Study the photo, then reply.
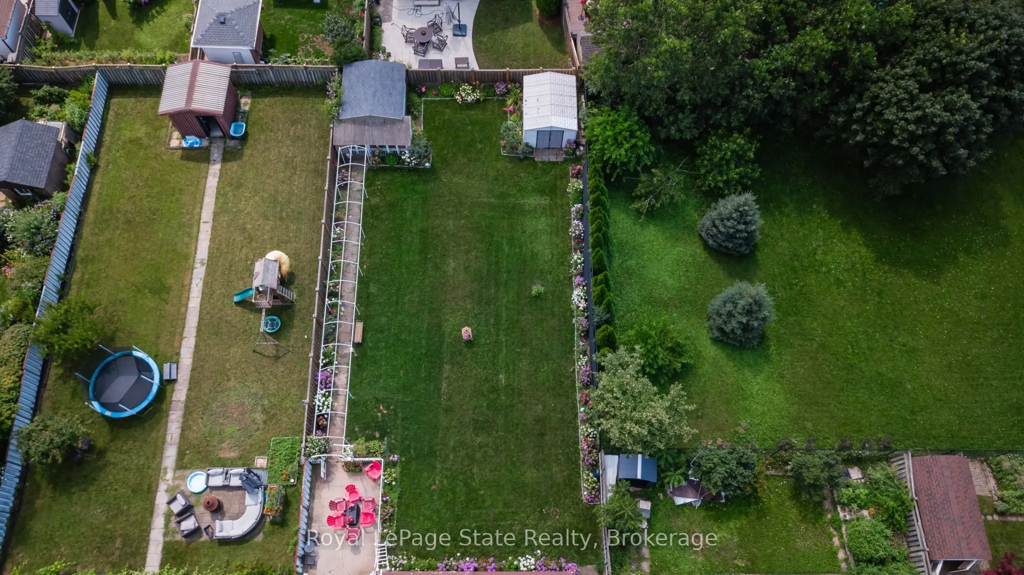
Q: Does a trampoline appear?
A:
Yes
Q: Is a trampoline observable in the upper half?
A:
No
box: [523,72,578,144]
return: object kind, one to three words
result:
shed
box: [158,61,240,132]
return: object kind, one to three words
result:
shed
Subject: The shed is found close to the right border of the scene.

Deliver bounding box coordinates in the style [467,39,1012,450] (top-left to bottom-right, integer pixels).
[908,455,992,575]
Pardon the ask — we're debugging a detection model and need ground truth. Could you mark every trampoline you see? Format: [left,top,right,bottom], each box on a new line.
[73,346,166,420]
